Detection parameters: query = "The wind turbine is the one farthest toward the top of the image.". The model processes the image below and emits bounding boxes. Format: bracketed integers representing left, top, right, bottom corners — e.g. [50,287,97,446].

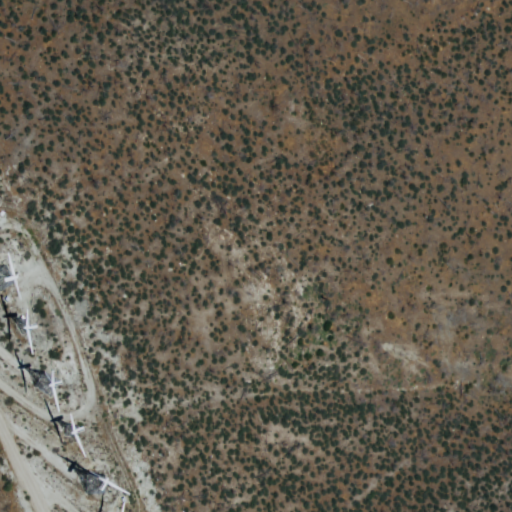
[0,254,22,298]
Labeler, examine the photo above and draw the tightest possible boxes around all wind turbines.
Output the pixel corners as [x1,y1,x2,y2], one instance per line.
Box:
[64,414,86,456]
[38,371,65,410]
[0,254,22,298]
[18,310,40,352]
[88,474,130,495]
